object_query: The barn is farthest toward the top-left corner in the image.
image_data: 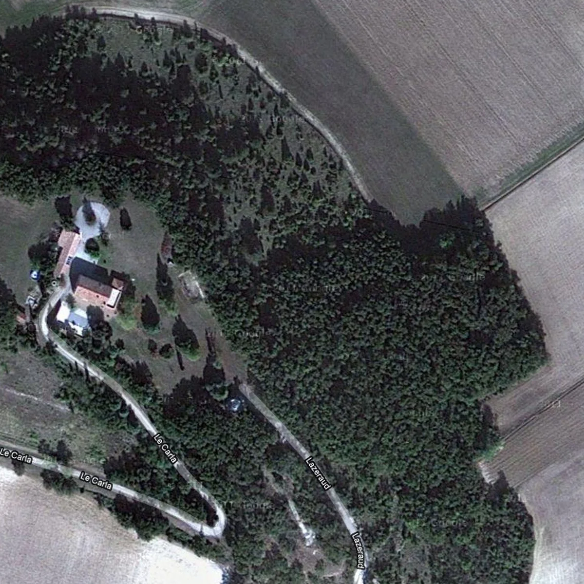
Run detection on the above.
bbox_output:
[54,231,82,275]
